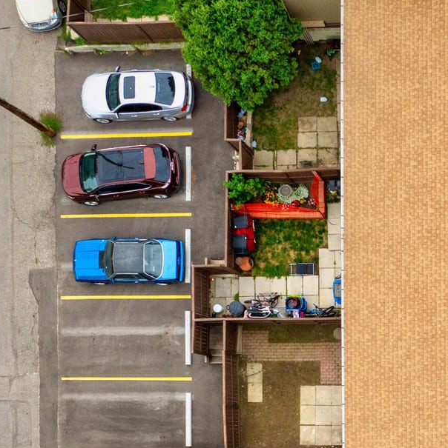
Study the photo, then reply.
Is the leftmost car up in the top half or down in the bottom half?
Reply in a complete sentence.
The top half of the photo is where the leftmost car is.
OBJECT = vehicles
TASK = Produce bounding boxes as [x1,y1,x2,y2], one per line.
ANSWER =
[73,233,185,282]
[82,67,194,122]
[15,0,68,36]
[63,145,182,203]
